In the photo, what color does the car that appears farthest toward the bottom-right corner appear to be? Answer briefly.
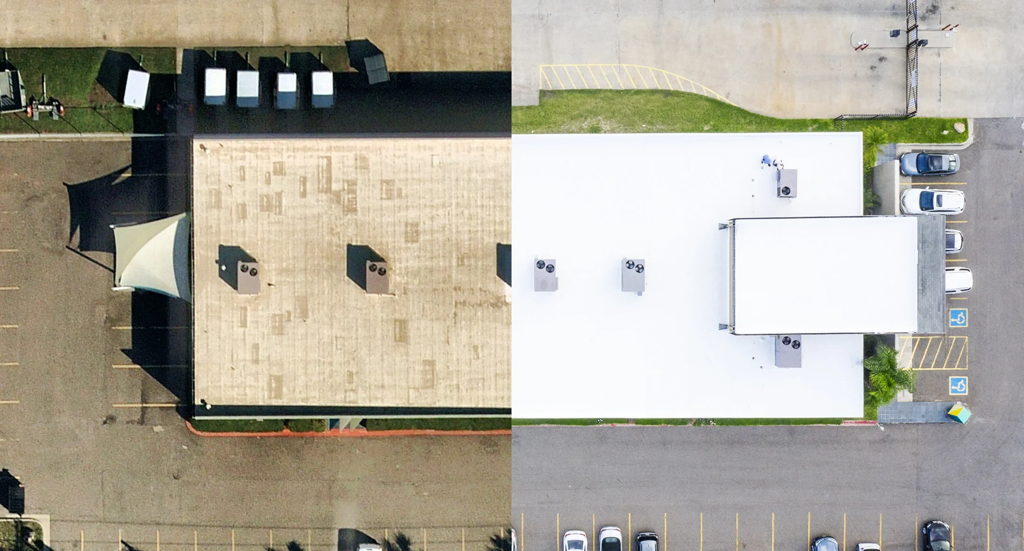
black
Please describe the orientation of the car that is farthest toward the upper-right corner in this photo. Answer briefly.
from left to right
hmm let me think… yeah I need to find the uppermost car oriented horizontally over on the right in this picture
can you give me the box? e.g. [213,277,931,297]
[901,149,961,177]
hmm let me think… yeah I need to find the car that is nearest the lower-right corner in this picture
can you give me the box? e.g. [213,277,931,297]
[922,521,954,551]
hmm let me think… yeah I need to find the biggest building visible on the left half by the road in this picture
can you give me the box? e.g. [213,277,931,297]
[191,133,512,418]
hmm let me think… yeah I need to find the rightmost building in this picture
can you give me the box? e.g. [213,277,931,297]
[512,132,945,418]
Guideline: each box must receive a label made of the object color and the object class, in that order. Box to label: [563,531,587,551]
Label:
white car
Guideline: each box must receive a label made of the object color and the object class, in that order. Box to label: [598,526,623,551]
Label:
white car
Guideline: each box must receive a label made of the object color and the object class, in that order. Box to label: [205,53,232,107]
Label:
white trailer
